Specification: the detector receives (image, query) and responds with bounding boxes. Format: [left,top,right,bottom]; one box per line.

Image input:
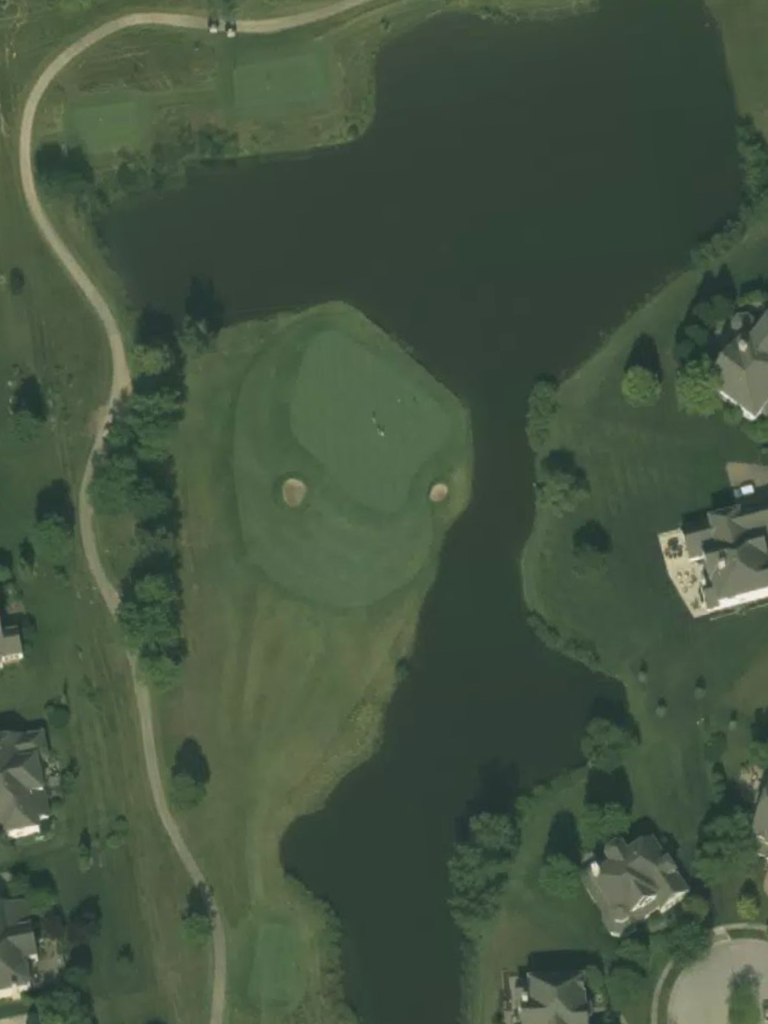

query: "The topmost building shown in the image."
[717,309,768,417]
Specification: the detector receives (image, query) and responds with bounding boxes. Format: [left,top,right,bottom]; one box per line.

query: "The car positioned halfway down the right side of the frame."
[734,484,757,497]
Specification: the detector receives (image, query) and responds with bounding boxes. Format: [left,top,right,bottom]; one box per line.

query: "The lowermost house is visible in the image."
[521,971,589,1024]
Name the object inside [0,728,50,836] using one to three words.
house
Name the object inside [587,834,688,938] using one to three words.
house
